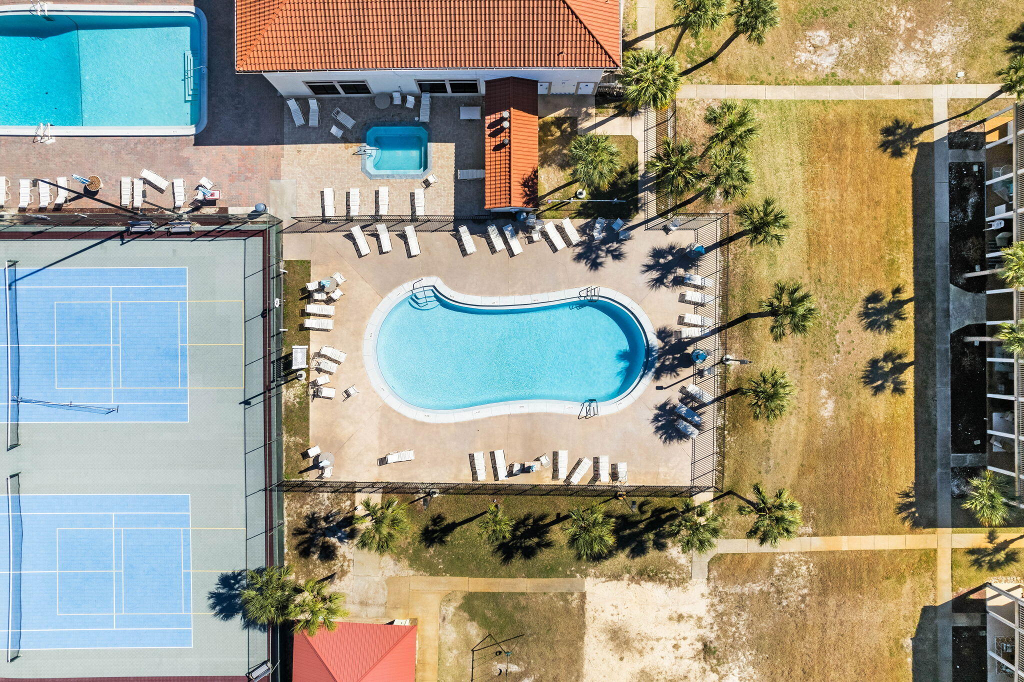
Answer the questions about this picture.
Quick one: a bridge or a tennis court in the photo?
tennis court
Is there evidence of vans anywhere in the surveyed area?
No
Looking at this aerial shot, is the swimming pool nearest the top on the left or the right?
left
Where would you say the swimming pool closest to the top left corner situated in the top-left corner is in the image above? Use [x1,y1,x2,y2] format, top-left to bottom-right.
[0,0,207,136]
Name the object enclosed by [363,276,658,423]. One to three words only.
swimming pool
